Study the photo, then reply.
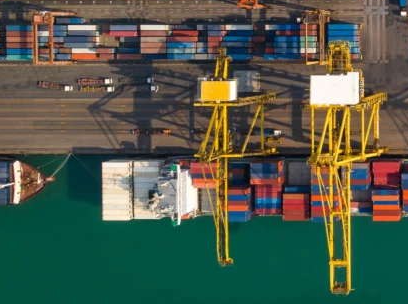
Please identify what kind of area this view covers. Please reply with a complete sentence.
What you see here is a port.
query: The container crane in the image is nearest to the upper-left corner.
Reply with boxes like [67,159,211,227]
[31,8,81,63]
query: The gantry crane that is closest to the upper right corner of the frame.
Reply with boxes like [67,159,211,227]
[302,5,336,65]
